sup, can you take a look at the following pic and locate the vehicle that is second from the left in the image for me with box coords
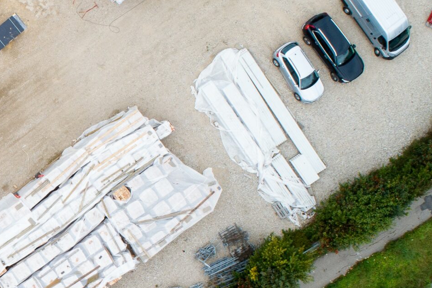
[304,11,367,87]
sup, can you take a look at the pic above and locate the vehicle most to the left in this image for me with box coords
[273,38,326,104]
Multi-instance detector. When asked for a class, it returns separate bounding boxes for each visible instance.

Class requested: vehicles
[345,0,417,65]
[273,38,326,104]
[304,11,367,87]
